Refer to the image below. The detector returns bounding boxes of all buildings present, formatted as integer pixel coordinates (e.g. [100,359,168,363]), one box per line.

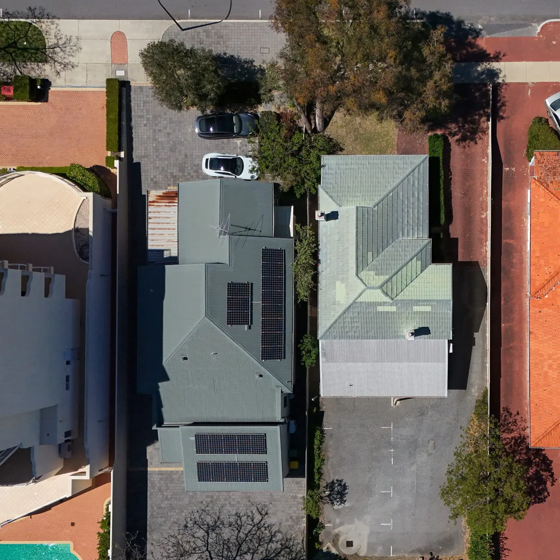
[316,154,453,397]
[136,178,297,492]
[524,150,560,449]
[0,169,111,529]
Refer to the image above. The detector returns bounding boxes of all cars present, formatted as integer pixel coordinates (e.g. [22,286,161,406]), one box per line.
[193,110,259,142]
[201,151,259,180]
[545,91,560,132]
